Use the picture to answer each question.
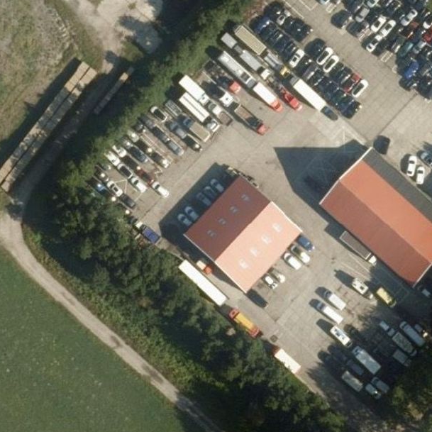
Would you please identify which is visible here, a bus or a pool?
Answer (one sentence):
I can see a bus in this picture.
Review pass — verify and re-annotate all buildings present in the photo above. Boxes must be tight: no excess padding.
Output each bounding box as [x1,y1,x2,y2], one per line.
[183,174,303,293]
[320,147,432,288]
